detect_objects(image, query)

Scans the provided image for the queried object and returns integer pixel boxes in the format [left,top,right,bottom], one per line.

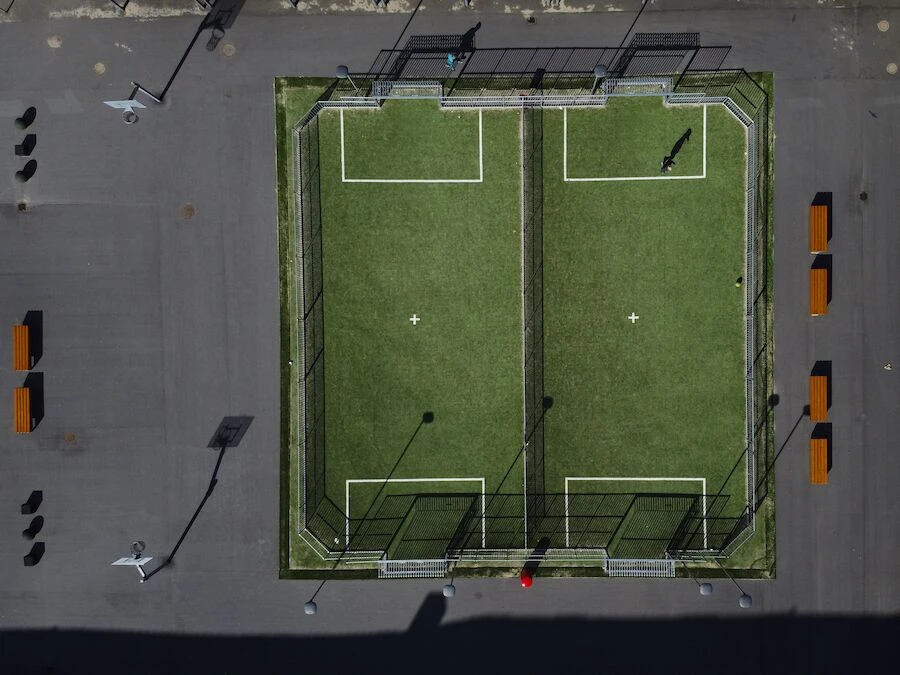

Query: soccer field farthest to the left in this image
[300,107,526,551]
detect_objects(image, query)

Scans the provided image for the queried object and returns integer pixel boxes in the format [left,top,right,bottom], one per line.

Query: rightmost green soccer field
[524,105,748,551]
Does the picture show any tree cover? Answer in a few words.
No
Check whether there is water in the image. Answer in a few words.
No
